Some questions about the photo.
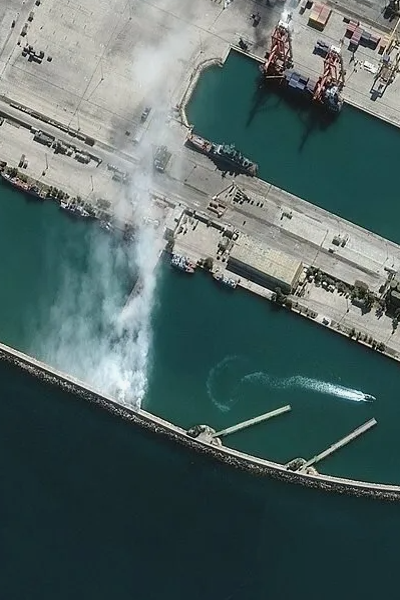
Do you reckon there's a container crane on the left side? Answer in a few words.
No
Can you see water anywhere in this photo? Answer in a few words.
Yes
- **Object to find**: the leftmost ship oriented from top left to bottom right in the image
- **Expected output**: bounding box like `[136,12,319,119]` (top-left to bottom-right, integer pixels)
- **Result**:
[0,174,47,202]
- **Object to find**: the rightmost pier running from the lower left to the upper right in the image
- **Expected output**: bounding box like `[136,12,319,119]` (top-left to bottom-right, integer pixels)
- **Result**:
[299,420,378,469]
